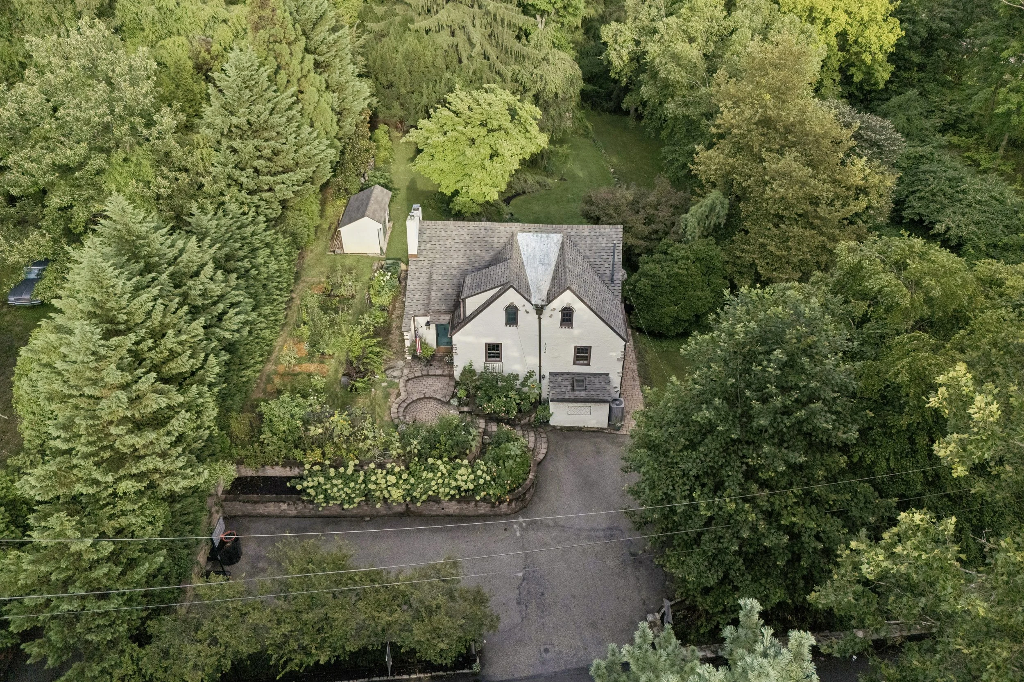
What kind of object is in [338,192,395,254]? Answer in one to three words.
shed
